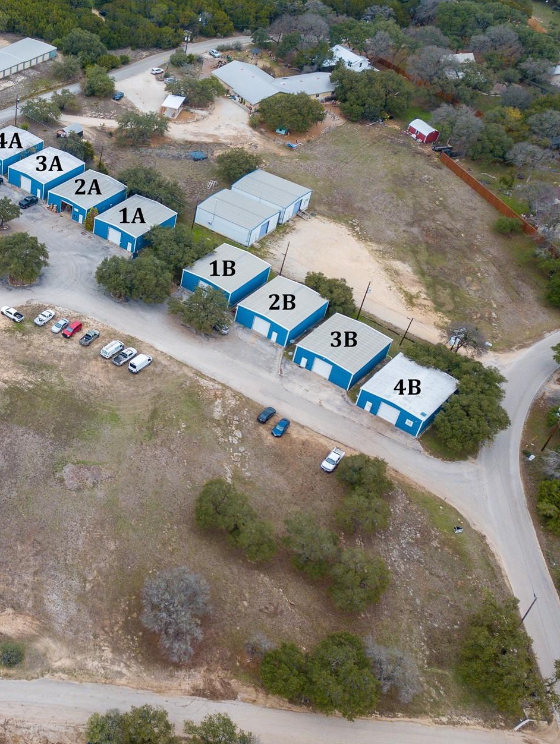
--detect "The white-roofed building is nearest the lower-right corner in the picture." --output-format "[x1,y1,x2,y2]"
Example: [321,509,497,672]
[354,353,458,437]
